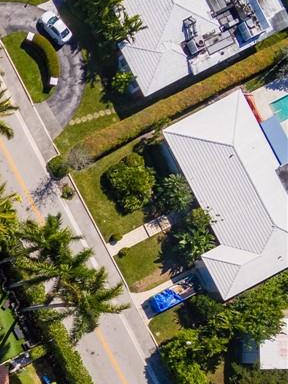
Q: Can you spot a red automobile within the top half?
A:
No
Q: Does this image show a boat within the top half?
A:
No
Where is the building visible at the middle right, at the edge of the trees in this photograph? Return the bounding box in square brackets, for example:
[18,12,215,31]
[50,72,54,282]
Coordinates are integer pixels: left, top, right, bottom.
[153,89,288,301]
